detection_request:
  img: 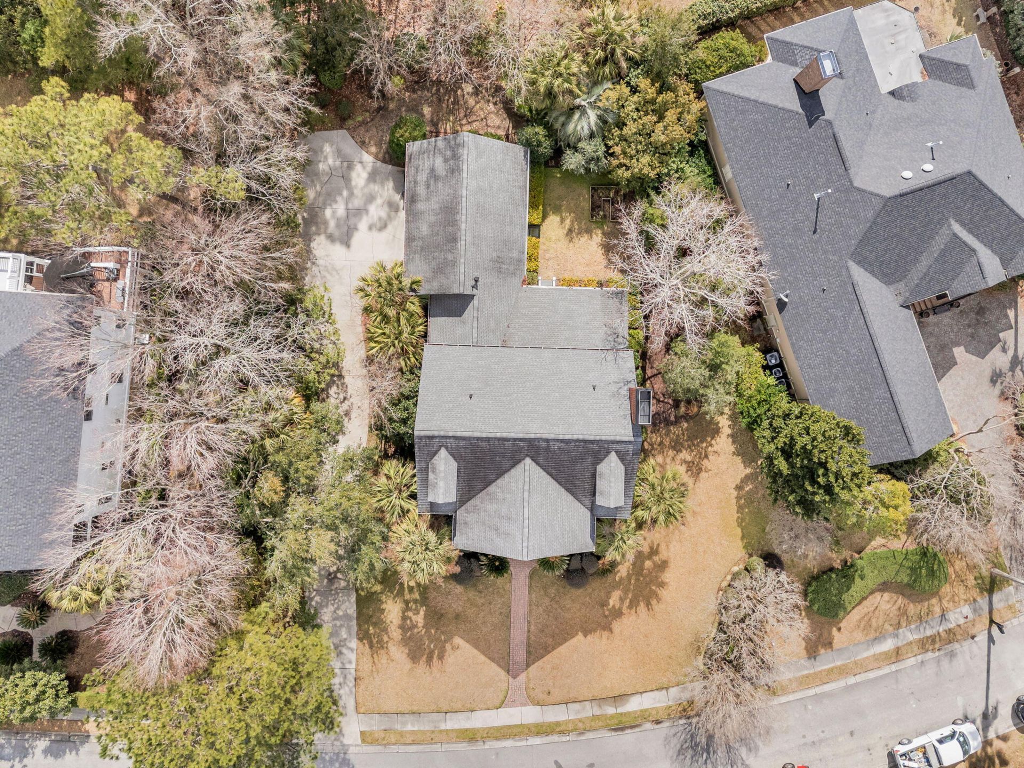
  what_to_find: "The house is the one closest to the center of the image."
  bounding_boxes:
[403,132,653,560]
